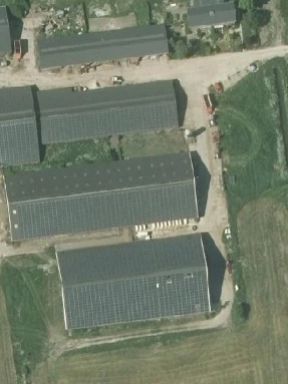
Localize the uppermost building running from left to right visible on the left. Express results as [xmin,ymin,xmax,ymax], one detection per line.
[36,24,169,71]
